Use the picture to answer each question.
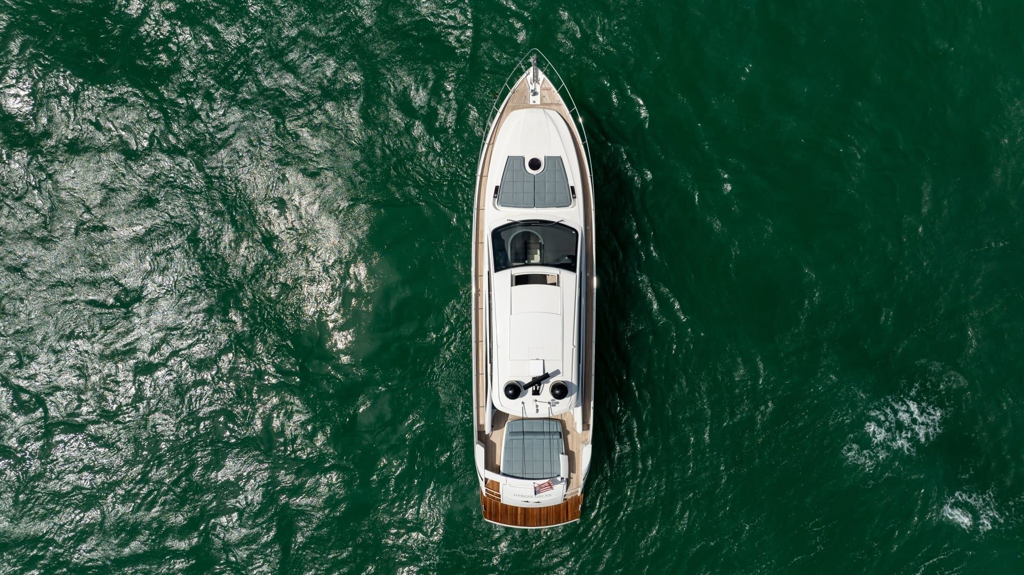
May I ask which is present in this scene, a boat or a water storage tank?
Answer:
boat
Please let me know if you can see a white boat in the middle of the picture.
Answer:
Yes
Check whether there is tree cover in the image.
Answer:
No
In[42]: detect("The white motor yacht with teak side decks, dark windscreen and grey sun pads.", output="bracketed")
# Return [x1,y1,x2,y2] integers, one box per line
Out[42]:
[472,48,597,528]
